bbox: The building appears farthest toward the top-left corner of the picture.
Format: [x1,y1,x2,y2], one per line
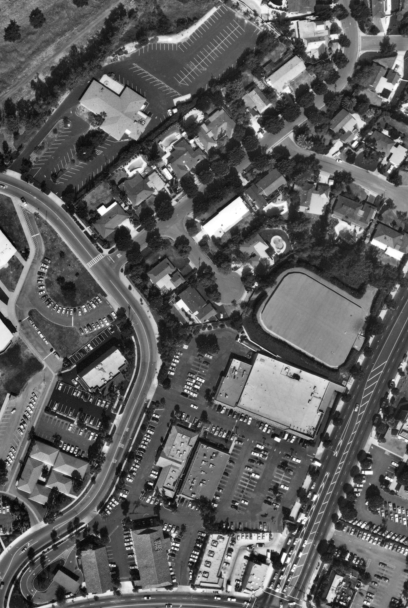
[78,76,152,141]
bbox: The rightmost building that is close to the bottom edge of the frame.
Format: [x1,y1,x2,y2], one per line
[325,573,353,605]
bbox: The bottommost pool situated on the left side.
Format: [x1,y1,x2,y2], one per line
[127,159,145,173]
